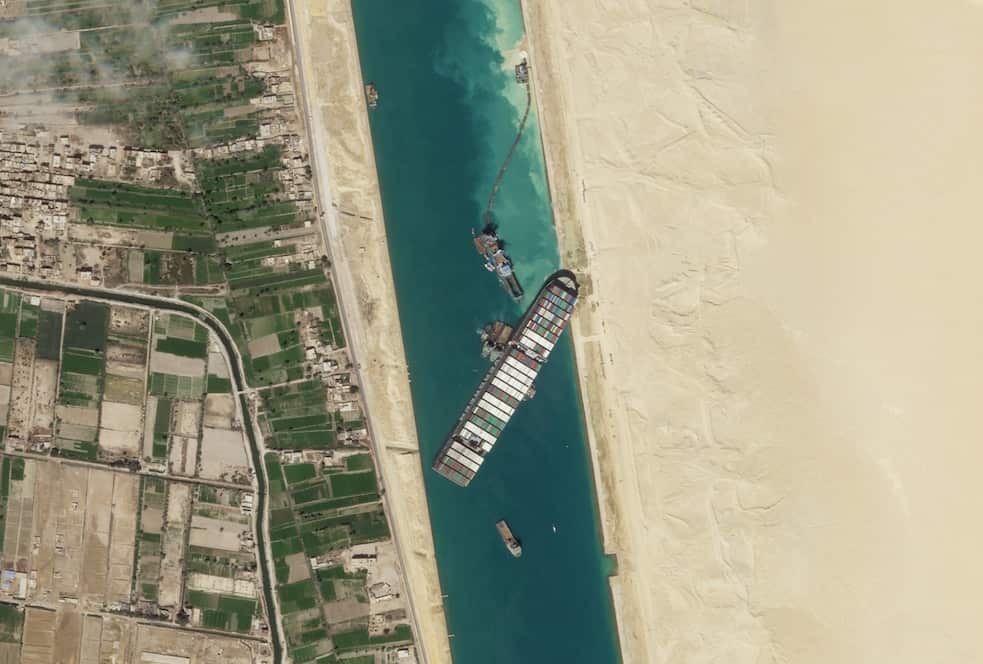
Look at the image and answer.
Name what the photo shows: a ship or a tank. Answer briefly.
ship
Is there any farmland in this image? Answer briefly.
Yes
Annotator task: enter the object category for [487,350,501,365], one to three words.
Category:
boat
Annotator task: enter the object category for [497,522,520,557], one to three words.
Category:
ship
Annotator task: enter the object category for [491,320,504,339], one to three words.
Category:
ship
